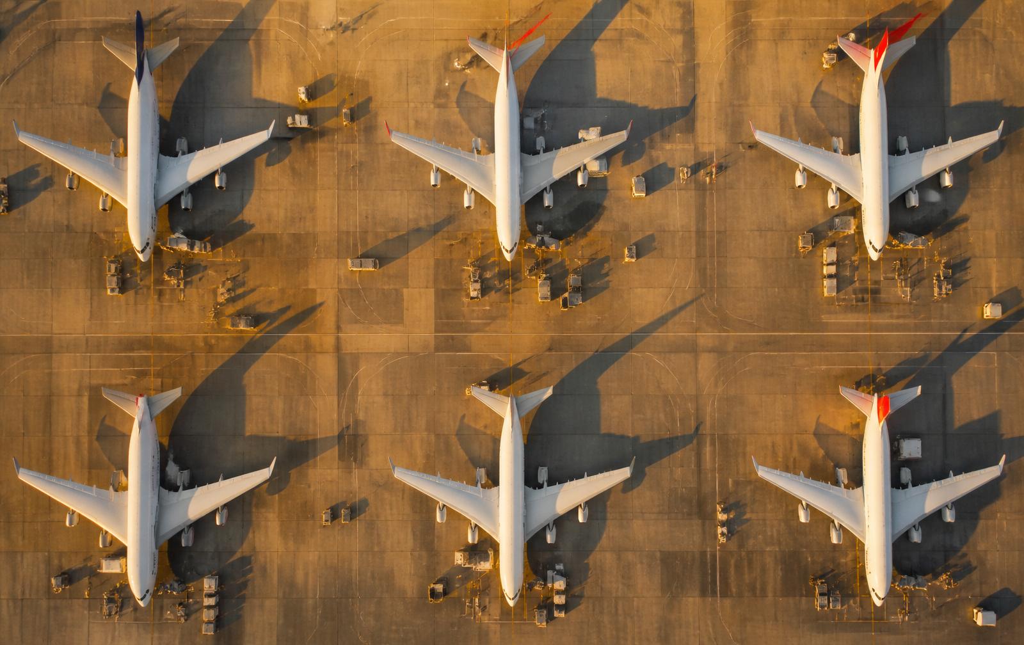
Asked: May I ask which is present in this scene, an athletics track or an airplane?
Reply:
airplane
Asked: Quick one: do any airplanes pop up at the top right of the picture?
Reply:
Yes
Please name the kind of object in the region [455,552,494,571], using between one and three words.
work vehicle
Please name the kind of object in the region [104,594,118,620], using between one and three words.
work vehicle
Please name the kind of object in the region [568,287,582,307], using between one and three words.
vehicle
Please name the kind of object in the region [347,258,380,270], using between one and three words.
vehicle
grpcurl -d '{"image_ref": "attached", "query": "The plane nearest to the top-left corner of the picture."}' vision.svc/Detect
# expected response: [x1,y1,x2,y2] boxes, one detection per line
[12,11,275,261]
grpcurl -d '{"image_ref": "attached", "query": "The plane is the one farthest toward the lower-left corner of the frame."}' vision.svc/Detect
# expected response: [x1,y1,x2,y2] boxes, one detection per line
[9,387,273,606]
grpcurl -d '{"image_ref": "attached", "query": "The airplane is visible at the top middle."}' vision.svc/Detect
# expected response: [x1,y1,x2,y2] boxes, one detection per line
[383,24,631,261]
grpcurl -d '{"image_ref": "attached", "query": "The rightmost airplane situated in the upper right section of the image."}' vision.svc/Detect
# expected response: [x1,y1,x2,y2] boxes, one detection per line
[749,25,1004,260]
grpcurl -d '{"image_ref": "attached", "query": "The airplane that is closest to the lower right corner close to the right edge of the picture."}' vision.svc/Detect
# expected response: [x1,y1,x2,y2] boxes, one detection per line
[751,387,1006,606]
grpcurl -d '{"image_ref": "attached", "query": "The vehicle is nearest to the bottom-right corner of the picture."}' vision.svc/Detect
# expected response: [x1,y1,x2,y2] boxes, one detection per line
[970,607,997,626]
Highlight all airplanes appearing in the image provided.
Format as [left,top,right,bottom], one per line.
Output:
[12,11,275,261]
[749,25,1004,260]
[9,387,273,606]
[751,387,1006,606]
[388,388,635,606]
[383,24,631,261]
